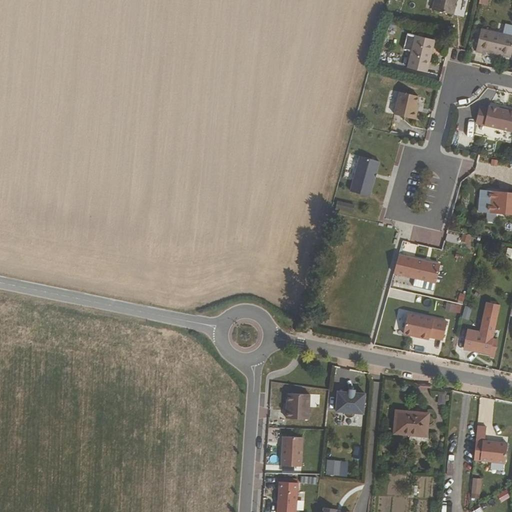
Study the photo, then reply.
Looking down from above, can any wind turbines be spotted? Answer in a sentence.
No, no wind turbine can be seen from above.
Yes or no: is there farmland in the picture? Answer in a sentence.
Yes, there's farmland in this view.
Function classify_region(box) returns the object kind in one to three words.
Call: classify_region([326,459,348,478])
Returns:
shed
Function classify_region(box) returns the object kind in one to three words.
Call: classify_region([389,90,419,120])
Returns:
house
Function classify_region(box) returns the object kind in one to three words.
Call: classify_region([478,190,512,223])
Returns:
house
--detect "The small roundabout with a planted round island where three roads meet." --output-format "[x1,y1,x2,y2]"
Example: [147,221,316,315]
[211,304,282,376]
